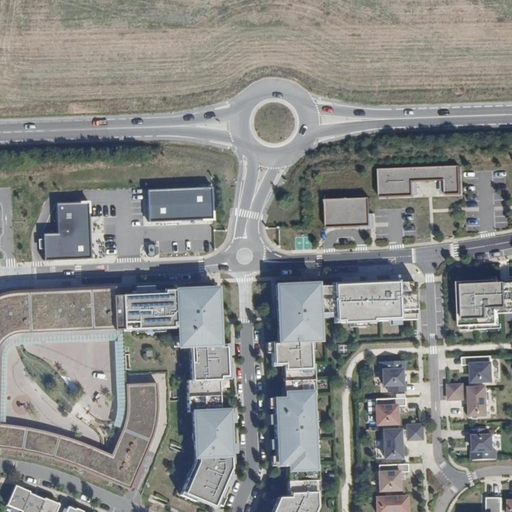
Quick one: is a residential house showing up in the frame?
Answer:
Yes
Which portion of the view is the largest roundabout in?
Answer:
top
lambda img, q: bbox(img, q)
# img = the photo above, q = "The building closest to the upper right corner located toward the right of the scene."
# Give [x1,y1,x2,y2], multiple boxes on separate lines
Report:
[376,166,462,197]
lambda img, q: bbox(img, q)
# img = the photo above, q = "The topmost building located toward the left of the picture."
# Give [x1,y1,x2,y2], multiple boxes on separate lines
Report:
[148,186,216,223]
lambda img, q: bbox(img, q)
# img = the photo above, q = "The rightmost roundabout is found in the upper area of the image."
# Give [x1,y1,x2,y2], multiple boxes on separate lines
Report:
[250,98,299,148]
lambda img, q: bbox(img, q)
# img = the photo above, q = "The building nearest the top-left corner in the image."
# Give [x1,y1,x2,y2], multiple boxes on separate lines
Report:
[38,200,92,260]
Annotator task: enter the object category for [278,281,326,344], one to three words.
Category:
building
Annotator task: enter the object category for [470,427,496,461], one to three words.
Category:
house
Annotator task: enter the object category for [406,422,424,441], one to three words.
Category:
building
